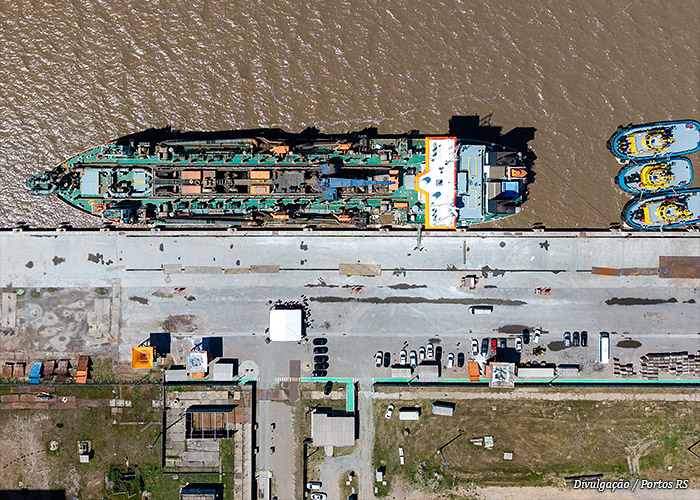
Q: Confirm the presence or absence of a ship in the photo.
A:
Yes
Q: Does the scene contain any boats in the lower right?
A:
No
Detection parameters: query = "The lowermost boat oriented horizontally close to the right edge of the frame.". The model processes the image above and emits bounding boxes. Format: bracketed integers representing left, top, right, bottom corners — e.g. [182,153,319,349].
[619,185,700,228]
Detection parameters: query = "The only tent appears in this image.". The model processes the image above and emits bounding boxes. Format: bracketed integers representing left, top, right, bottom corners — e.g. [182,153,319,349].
[269,307,304,341]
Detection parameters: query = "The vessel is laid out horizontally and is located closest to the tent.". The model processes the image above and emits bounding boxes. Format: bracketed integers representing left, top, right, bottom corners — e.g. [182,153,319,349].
[27,135,531,230]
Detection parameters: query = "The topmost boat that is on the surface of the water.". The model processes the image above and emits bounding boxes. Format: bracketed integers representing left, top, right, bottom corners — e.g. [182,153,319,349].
[604,119,700,161]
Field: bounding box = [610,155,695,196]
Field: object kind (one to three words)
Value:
boat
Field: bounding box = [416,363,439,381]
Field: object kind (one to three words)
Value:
building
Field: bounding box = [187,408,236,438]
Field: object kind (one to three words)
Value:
shed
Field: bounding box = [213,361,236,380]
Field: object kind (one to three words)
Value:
building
